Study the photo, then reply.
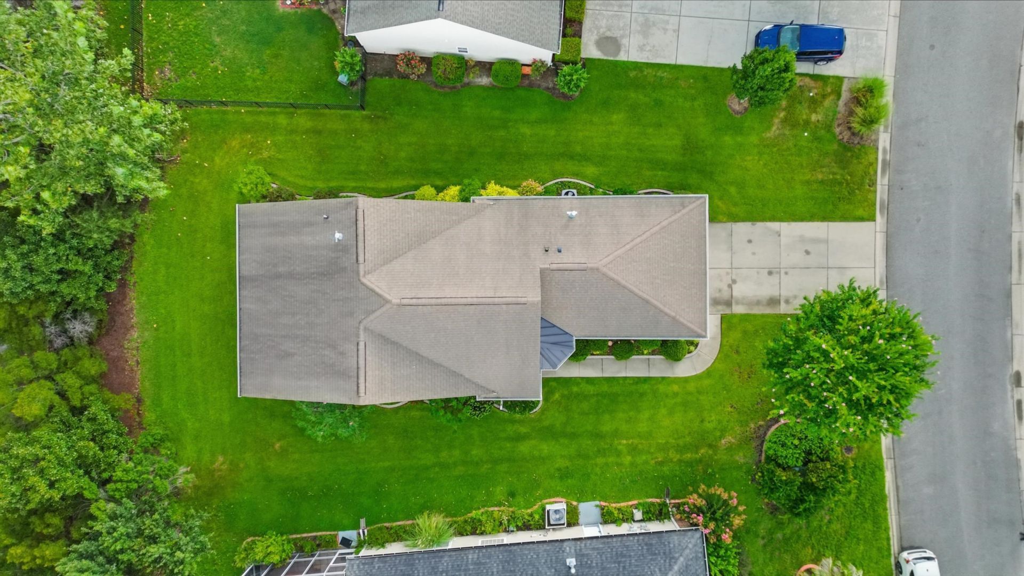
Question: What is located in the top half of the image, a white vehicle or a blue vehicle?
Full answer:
The one visible in the top half of the image is a blue vehicle.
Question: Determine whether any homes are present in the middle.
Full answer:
Yes, a home can be seen in the middle.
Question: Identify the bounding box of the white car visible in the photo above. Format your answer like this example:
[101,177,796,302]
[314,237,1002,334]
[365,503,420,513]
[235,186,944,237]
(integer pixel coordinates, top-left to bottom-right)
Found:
[899,549,941,576]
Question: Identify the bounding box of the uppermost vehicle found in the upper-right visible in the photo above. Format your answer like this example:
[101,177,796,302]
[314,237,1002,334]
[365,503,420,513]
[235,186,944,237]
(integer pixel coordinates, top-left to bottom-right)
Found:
[754,17,849,65]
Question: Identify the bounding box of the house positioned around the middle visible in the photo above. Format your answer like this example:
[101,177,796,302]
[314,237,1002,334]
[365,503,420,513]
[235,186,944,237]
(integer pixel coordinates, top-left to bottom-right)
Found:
[234,194,710,416]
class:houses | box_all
[345,502,712,576]
[234,194,710,416]
[343,0,566,71]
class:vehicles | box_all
[754,17,849,65]
[899,549,941,576]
